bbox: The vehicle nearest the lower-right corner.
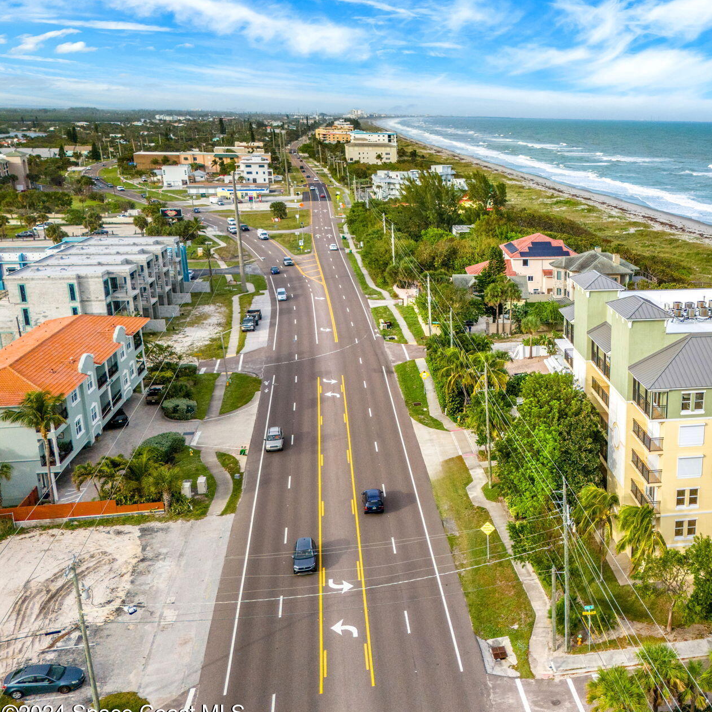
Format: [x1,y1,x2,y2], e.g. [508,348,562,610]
[361,485,384,509]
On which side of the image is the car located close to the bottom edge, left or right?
left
